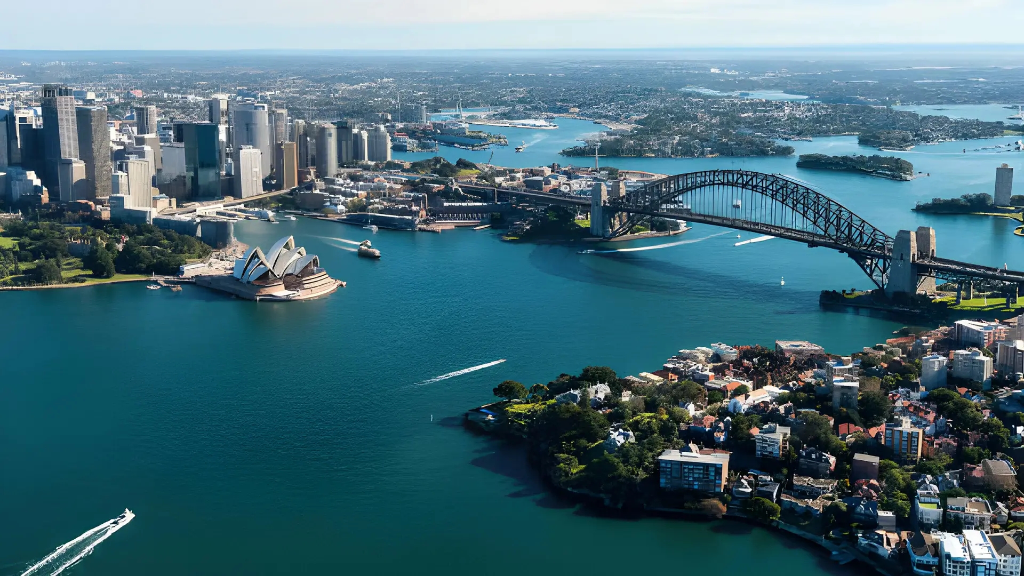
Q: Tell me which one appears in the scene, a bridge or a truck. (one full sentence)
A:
I can see a bridge in this picture.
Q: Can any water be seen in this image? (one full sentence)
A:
Yes, there is water in the image.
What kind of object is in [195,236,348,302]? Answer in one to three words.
building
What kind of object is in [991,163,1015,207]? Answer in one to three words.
building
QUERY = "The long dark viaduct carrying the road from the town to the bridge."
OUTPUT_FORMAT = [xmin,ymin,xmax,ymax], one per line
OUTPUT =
[432,181,591,226]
